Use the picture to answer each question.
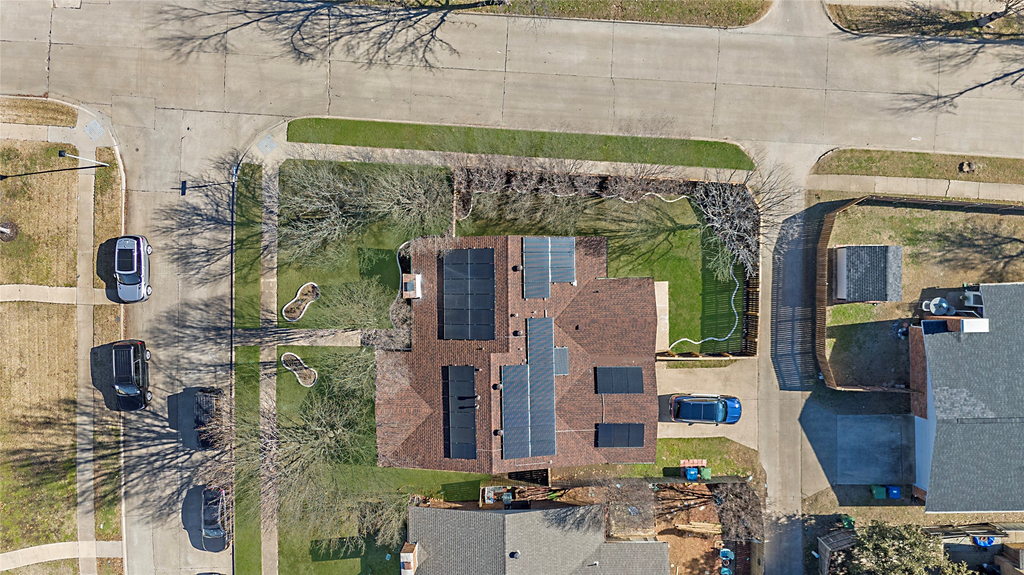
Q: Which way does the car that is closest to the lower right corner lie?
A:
horizontally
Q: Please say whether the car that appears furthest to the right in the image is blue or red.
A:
blue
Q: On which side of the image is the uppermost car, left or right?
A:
left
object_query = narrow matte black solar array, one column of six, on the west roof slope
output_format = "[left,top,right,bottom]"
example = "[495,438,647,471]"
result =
[448,366,476,459]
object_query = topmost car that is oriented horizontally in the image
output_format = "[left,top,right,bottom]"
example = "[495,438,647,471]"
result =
[669,393,741,427]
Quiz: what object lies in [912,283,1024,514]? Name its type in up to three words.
house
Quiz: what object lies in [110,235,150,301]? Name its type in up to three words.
car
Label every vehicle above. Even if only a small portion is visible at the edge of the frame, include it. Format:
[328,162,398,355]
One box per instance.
[197,485,233,552]
[195,387,232,453]
[669,393,741,427]
[110,341,152,413]
[110,235,150,301]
